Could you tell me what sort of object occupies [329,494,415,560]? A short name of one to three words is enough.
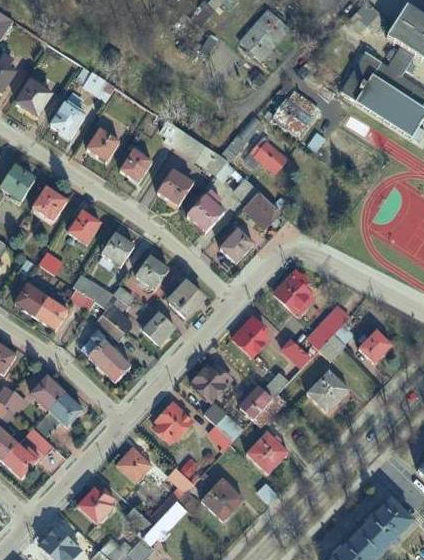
building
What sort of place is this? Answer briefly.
residential area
